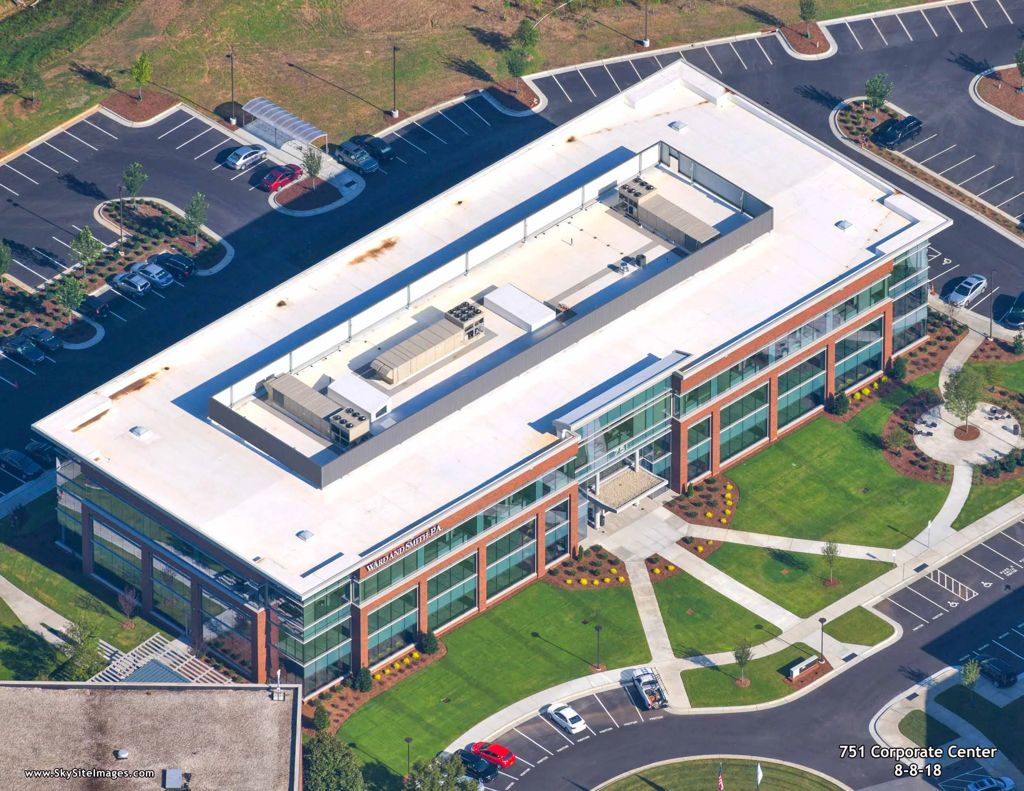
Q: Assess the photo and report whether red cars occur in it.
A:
Yes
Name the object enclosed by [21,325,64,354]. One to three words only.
car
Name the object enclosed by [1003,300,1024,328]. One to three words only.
car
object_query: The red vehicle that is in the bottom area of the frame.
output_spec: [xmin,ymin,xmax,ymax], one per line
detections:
[472,742,516,771]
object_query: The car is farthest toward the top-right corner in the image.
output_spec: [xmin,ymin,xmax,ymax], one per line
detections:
[879,116,923,150]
